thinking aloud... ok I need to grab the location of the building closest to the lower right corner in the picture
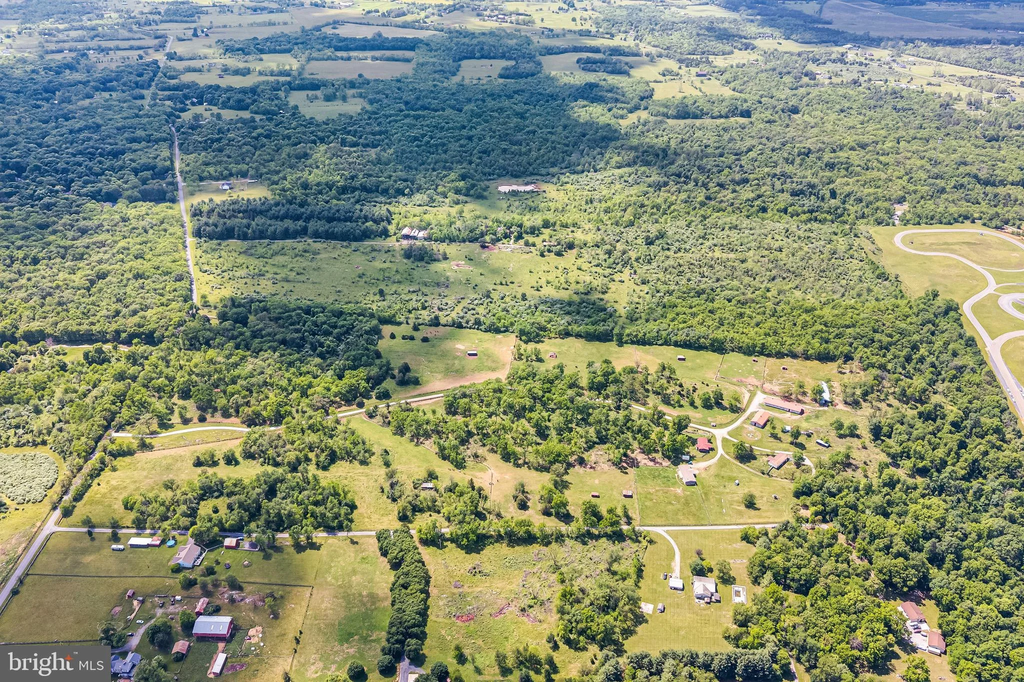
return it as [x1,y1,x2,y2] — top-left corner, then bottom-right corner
[921,632,947,655]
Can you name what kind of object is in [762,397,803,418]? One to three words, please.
building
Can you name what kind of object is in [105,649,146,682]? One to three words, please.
house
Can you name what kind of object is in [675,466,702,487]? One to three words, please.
house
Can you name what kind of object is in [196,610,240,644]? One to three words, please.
barn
